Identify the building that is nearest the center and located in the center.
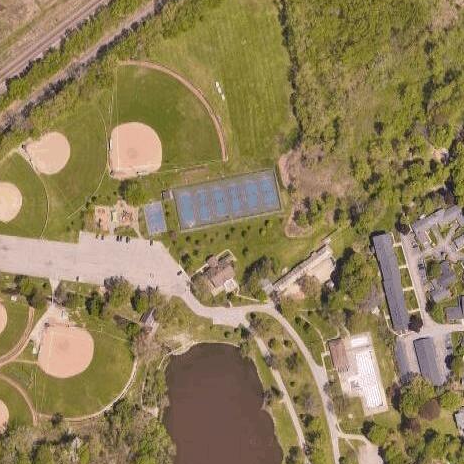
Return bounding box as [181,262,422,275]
[206,255,236,292]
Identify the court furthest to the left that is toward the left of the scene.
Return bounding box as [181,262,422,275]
[143,199,168,236]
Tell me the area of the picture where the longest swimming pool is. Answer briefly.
bottom right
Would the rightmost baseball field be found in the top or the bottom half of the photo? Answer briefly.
top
